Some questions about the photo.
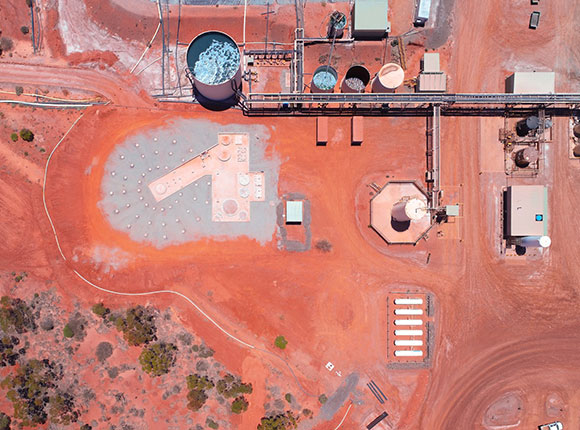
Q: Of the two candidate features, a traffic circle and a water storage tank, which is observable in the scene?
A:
water storage tank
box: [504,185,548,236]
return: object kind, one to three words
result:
building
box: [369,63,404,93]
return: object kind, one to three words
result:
storage tank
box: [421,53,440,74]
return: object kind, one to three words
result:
building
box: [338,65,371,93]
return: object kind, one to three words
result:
storage tank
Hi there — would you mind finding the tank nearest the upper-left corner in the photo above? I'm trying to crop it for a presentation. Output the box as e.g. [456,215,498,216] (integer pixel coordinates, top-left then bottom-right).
[186,32,245,101]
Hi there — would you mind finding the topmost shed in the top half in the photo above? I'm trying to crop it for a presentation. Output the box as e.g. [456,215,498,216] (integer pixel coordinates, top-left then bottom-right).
[353,0,388,36]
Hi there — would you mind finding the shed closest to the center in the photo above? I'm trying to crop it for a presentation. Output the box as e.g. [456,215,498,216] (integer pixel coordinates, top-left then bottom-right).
[287,201,304,222]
